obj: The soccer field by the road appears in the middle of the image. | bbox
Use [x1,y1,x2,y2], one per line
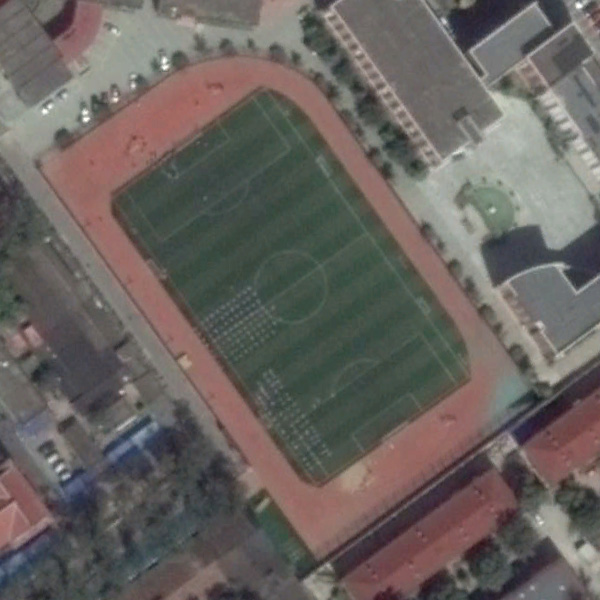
[117,91,466,481]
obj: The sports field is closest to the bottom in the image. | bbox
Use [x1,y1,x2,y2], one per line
[248,488,316,574]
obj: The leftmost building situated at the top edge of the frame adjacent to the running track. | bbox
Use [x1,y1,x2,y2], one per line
[0,0,73,112]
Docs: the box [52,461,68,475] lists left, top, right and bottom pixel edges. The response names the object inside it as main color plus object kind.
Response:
white vehicle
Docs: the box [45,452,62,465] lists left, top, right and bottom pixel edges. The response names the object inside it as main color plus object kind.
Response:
white vehicle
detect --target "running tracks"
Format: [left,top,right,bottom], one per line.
[38,56,532,560]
